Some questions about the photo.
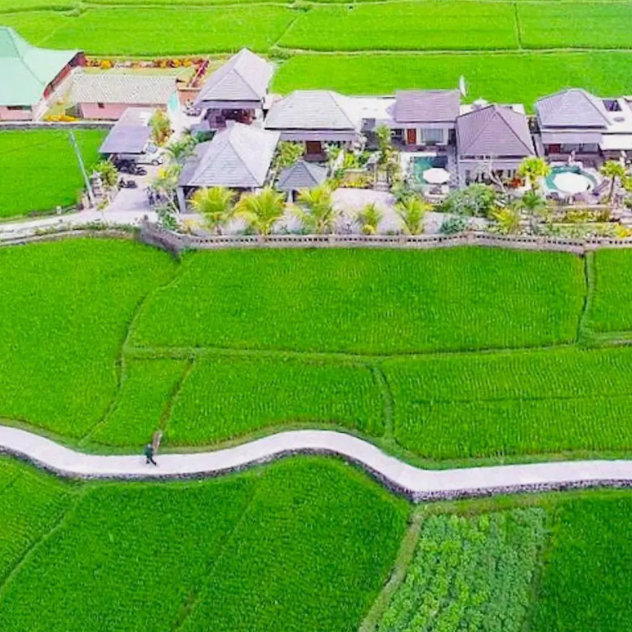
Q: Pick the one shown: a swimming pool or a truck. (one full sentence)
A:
Looking from above, you can make out a swimming pool.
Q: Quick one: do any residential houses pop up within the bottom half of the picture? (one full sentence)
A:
No, no residential house appears within the bottom half of the picture.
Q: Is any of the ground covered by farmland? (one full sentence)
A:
Yes, farmland can be seen from above here.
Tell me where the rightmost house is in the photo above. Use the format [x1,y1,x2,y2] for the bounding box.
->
[535,90,632,171]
